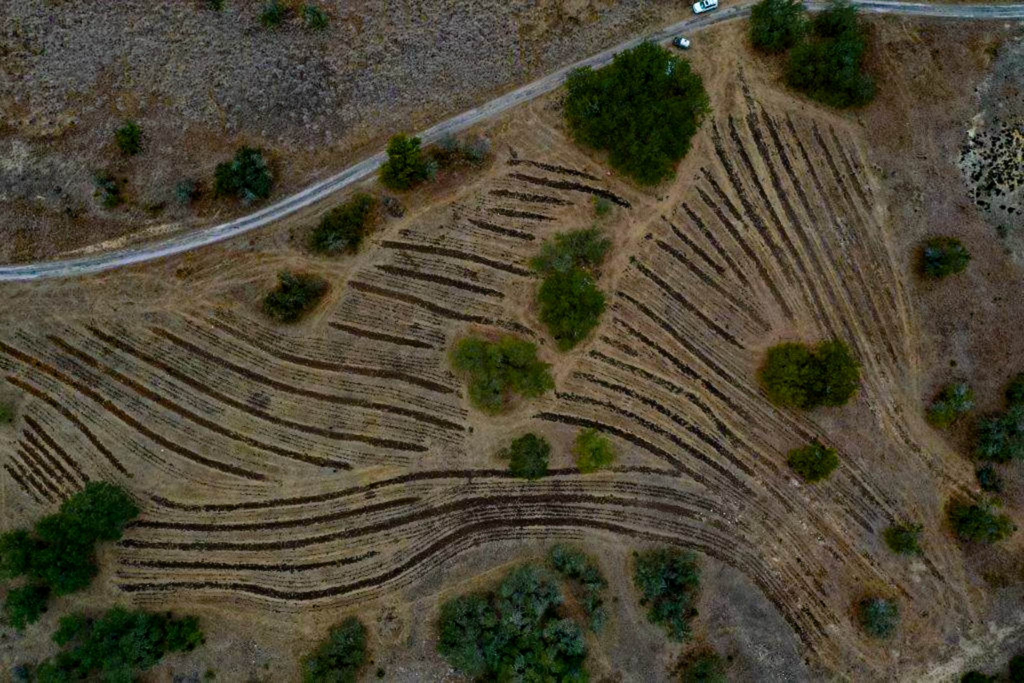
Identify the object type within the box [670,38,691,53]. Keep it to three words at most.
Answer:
car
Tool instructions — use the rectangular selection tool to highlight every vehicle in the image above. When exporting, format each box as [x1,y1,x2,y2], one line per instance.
[692,0,721,15]
[670,38,691,53]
